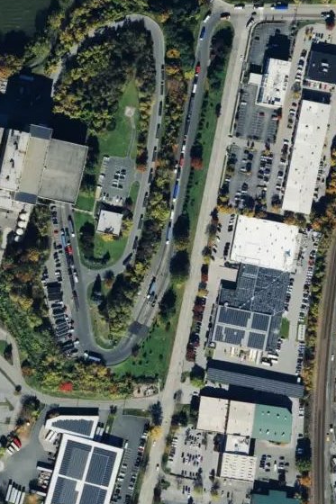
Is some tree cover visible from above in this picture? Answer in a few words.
Yes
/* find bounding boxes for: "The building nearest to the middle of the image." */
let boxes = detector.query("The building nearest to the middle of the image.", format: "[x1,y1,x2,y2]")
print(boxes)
[97,211,123,236]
